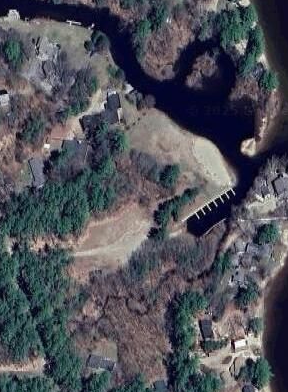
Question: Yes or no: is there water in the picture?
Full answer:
Yes, water can be seen from above here.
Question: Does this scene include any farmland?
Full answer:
No, no farmland is visible.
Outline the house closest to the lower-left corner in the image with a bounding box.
[86,355,115,373]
